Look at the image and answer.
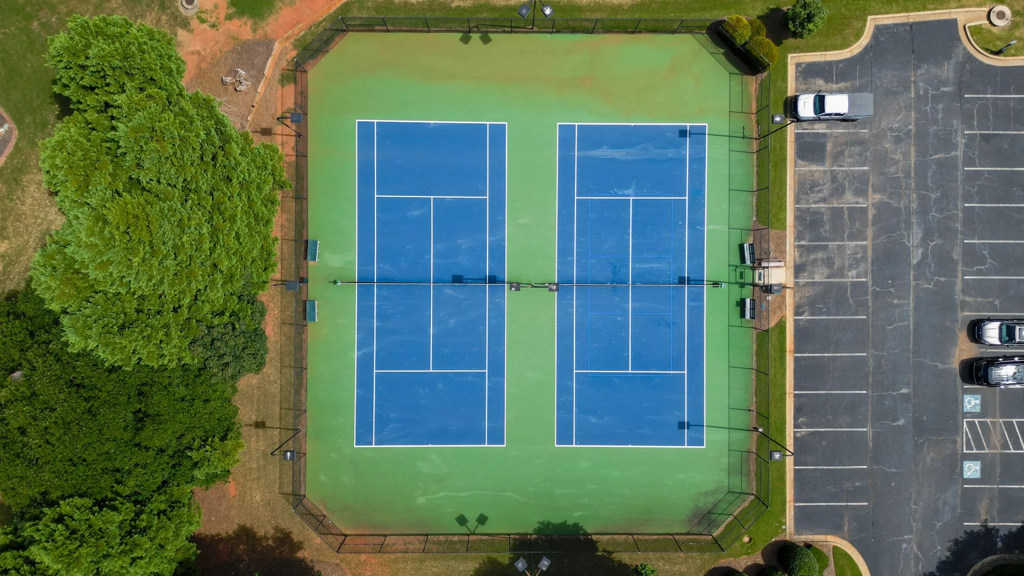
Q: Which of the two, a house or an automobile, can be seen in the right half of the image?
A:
automobile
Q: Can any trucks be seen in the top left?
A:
No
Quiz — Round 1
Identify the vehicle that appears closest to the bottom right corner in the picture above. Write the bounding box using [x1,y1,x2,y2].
[971,356,1024,386]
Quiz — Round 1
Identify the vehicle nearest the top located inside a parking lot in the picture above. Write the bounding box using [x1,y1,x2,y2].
[792,88,873,122]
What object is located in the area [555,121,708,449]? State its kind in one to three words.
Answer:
tennis court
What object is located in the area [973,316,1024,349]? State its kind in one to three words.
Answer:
car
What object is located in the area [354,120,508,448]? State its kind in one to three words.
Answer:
tennis court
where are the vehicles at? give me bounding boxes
[792,88,873,122]
[973,316,1024,349]
[971,356,1024,386]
